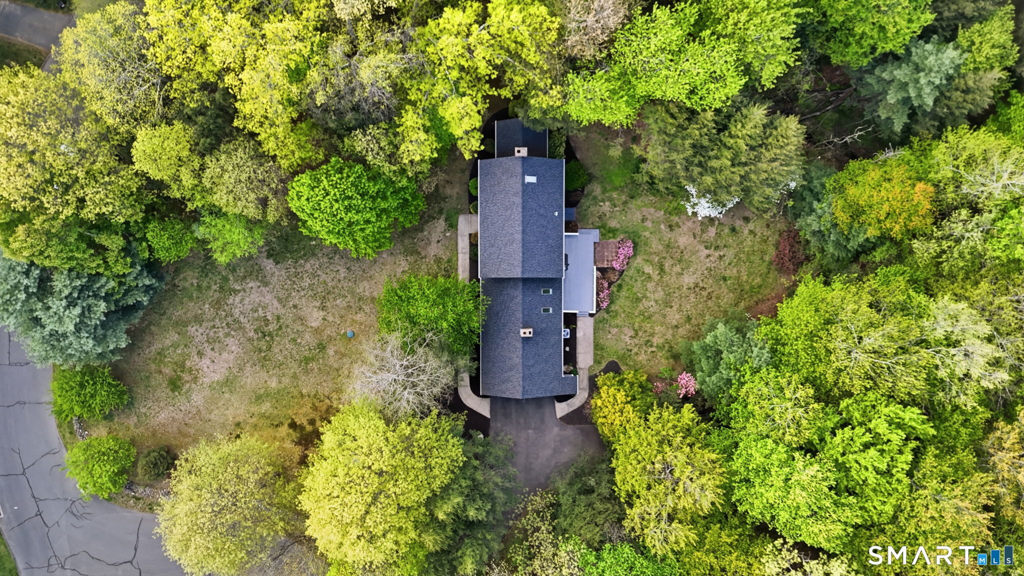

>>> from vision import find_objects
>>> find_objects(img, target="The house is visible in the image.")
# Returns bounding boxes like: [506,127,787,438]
[477,118,579,399]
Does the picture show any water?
No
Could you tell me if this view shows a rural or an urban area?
rural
